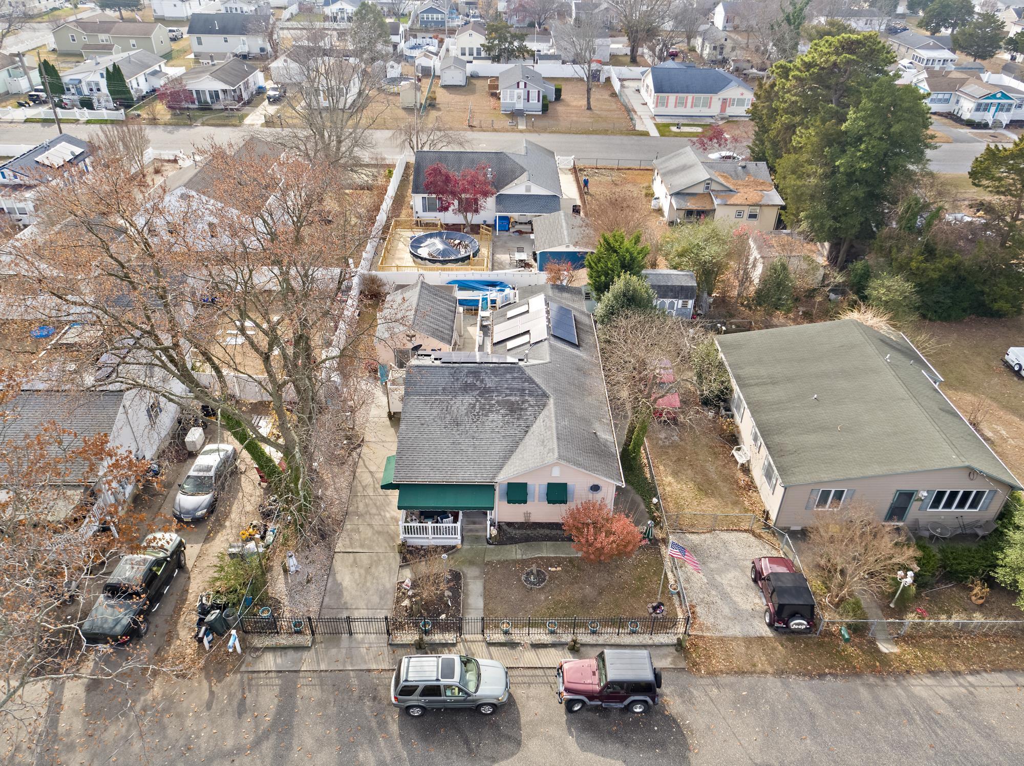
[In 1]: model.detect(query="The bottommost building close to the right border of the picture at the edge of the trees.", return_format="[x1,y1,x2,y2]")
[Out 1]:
[712,314,1024,559]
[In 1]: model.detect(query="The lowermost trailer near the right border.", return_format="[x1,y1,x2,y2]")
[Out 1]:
[981,341,1024,381]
